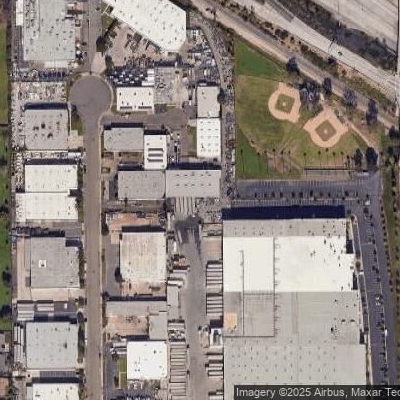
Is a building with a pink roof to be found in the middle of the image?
No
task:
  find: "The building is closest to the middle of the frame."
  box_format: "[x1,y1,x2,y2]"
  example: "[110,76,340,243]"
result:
[166,170,221,197]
